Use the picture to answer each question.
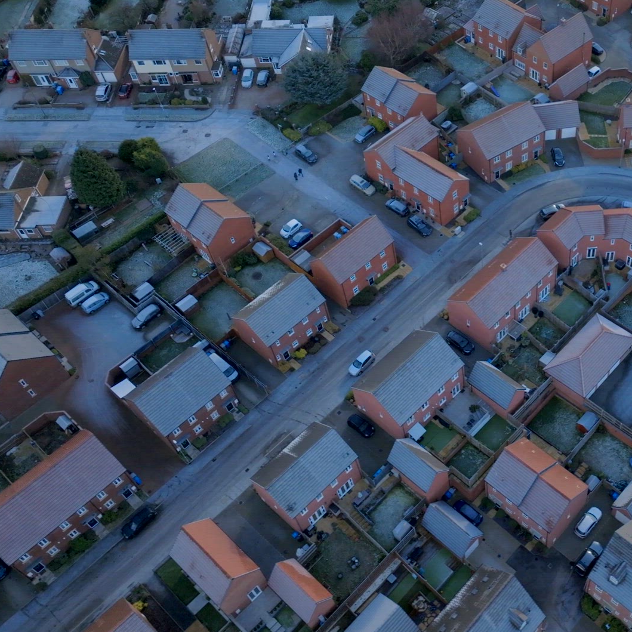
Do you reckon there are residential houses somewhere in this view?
Yes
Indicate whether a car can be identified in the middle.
Yes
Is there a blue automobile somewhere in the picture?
Yes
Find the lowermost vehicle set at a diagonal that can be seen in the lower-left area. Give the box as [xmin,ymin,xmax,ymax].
[121,502,161,539]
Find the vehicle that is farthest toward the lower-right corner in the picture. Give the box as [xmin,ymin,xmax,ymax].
[570,541,604,581]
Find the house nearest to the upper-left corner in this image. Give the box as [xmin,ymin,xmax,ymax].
[8,22,105,87]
